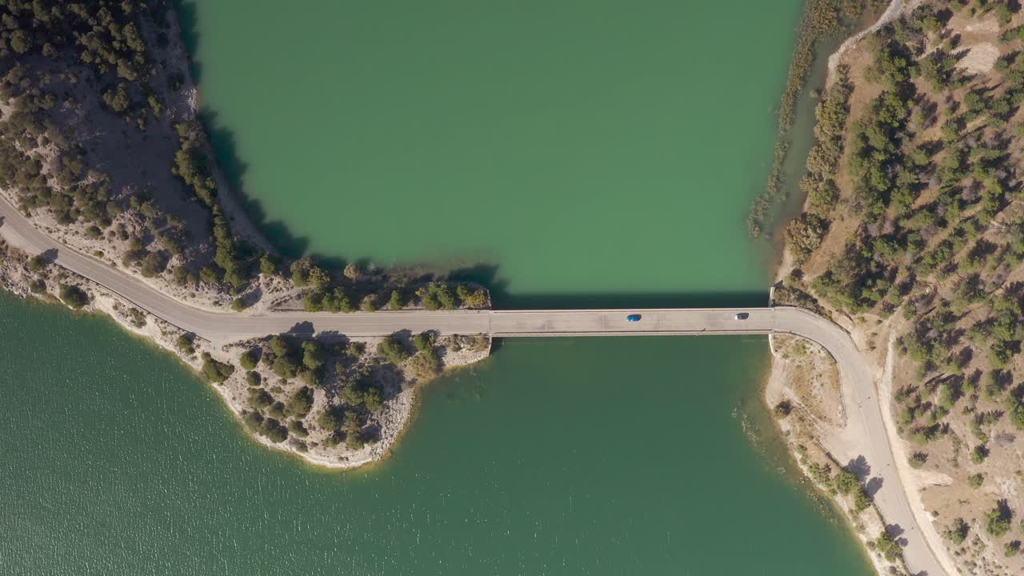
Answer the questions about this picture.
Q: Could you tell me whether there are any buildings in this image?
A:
No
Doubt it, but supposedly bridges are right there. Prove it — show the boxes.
[487,307,775,337]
